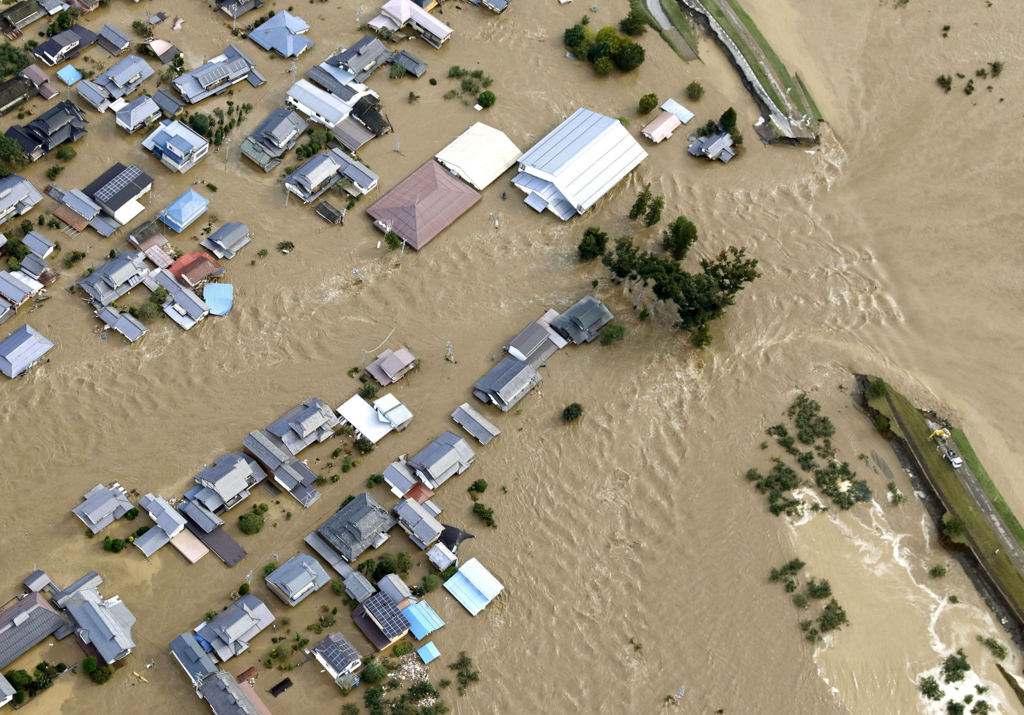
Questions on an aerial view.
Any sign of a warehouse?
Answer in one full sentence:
Yes, there is a warehouse in the image.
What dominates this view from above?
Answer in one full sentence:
The scene is dominated by water.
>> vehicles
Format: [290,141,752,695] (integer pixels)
[925,427,959,447]
[946,447,964,467]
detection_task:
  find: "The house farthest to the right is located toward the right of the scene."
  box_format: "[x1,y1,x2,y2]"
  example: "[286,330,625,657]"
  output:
[688,132,738,164]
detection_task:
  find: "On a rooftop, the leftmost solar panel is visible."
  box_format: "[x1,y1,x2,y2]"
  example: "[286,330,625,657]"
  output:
[99,171,140,204]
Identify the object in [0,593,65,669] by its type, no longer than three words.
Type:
building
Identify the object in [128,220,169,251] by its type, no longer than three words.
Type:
shed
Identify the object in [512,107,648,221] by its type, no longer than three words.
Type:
warehouse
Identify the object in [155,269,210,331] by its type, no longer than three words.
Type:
house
